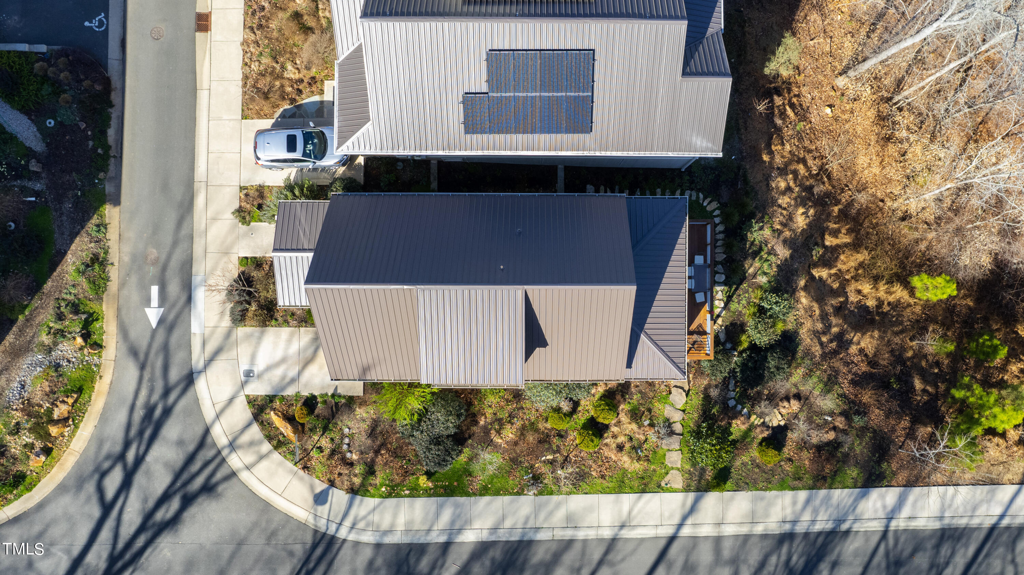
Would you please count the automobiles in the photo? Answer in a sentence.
My tally gives 1 automobile in this photo.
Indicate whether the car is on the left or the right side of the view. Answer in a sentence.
You can find the car on the left side of the picture.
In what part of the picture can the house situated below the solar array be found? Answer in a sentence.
The house situated below the solar array is located in the center region of the scene.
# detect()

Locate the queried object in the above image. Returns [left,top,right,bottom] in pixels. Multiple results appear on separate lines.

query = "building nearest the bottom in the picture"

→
[271,192,687,389]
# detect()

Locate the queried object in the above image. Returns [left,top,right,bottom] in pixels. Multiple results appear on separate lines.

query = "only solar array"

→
[459,50,596,134]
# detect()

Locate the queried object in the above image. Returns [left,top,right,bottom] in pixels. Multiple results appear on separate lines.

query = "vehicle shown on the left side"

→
[252,120,352,169]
